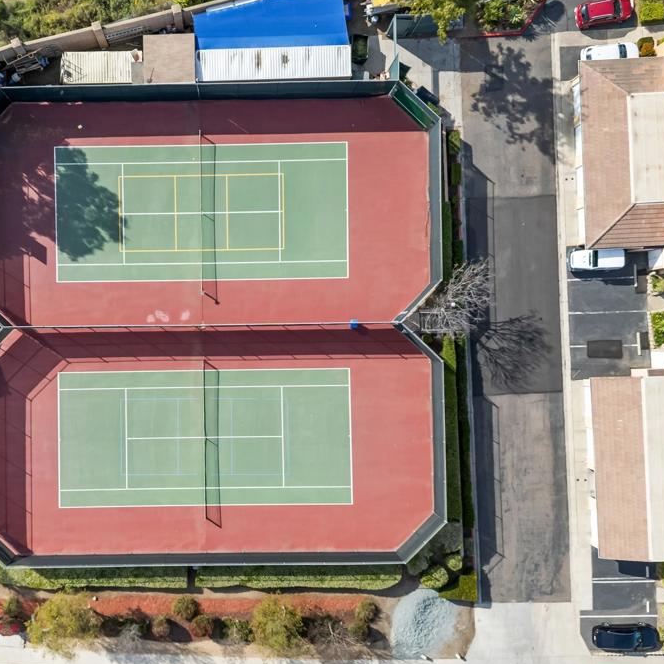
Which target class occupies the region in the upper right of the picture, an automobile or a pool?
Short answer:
automobile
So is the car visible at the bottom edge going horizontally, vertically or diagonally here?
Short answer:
horizontally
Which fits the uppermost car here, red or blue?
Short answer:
red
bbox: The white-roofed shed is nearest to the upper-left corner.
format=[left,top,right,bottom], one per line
[62,50,134,88]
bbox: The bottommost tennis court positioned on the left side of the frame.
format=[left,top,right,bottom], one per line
[0,328,432,556]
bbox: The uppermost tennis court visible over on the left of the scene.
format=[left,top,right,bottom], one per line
[0,99,429,332]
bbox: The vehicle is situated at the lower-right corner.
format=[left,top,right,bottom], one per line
[592,622,656,655]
